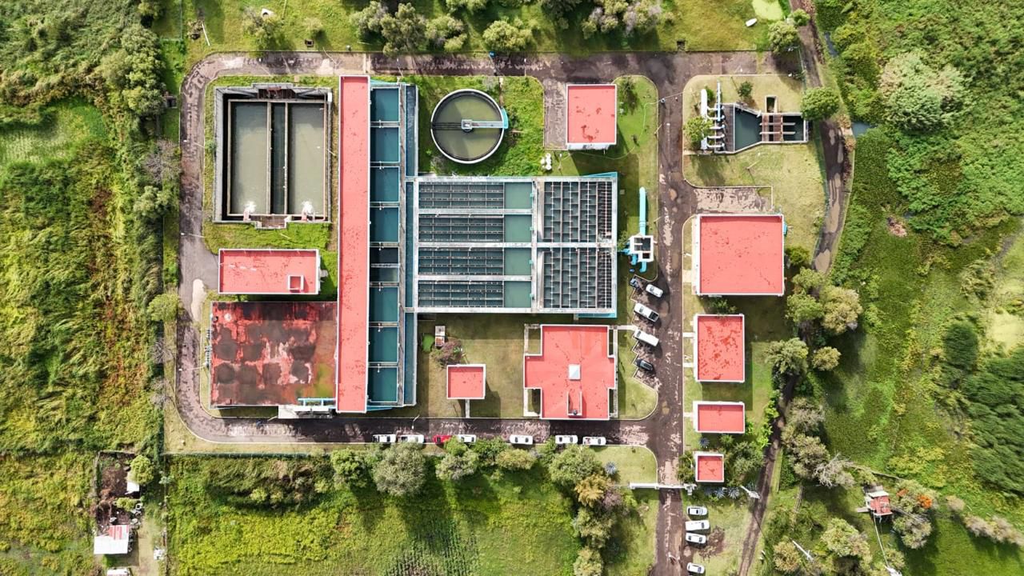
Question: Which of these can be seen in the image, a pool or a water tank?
water tank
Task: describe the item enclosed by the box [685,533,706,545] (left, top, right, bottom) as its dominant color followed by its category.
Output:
white vehicle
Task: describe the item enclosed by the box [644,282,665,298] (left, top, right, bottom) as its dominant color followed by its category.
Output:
white car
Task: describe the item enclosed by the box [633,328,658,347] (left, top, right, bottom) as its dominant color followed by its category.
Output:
white vehicle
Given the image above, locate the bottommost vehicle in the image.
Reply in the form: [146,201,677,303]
[686,561,705,574]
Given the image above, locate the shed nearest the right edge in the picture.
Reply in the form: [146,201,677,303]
[848,481,891,517]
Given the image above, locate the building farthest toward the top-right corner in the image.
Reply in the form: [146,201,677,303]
[694,214,790,296]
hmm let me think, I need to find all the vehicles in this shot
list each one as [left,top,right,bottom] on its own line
[582,435,605,445]
[684,519,710,531]
[634,303,659,322]
[686,561,705,574]
[401,433,425,444]
[629,276,644,290]
[555,434,577,445]
[633,328,658,347]
[635,358,654,373]
[434,434,453,443]
[458,434,477,443]
[686,506,707,517]
[373,433,397,444]
[644,282,665,298]
[510,434,532,444]
[685,533,706,545]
